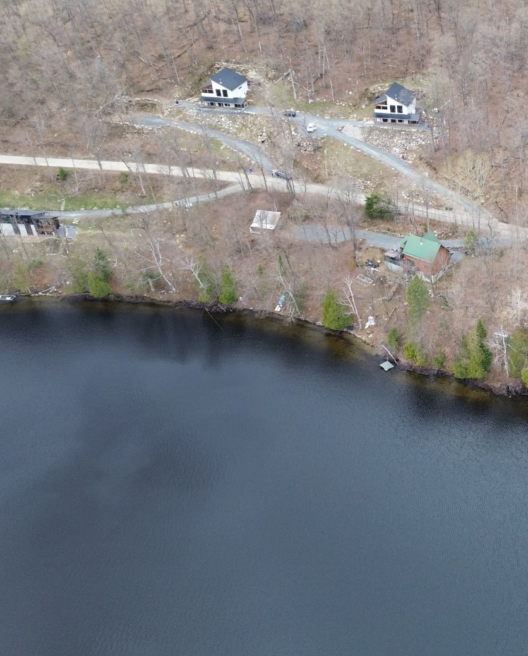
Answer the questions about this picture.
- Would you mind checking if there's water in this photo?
Yes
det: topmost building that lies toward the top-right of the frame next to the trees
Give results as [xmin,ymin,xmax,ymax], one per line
[371,82,419,126]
